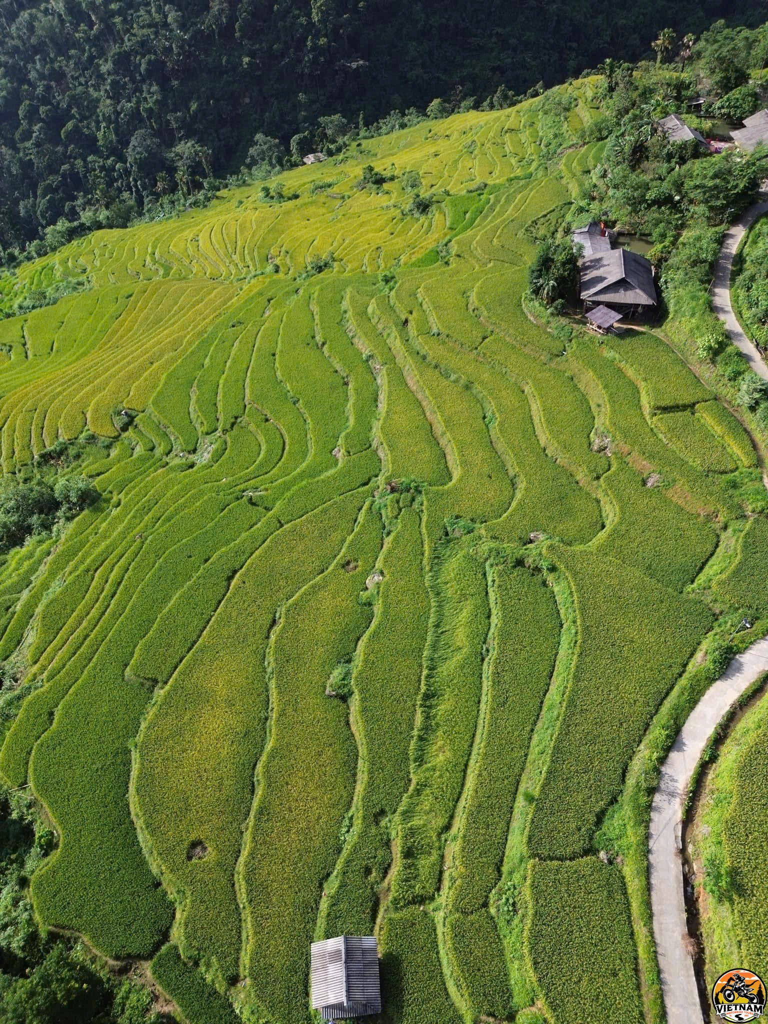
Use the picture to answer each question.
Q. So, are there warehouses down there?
No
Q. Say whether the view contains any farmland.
Yes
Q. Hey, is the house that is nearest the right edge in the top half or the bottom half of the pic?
top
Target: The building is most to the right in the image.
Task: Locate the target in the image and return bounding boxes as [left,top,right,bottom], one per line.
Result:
[731,112,768,157]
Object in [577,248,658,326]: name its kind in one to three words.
house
